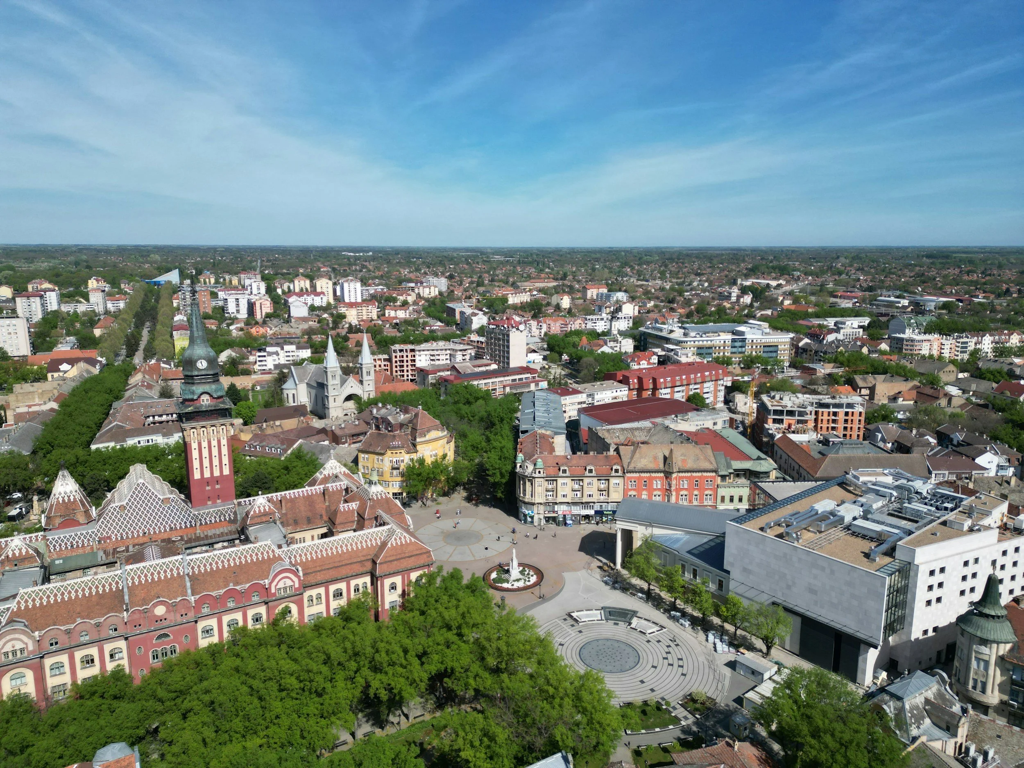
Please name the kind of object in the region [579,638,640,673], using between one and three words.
fountain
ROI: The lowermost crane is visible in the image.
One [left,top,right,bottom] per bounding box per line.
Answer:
[721,366,867,439]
